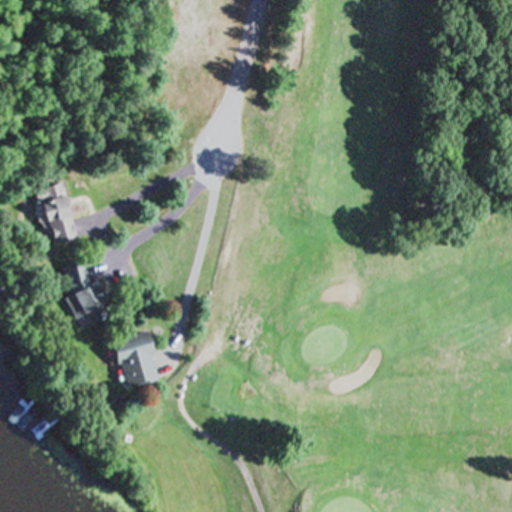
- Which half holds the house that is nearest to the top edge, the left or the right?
left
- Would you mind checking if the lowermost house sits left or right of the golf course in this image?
to the left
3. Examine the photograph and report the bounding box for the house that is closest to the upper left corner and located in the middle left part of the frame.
[34,182,75,241]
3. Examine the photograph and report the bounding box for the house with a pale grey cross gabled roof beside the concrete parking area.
[110,331,158,388]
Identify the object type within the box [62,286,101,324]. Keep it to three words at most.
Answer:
house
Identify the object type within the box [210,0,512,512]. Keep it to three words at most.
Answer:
golf course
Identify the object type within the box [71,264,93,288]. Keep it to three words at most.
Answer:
building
